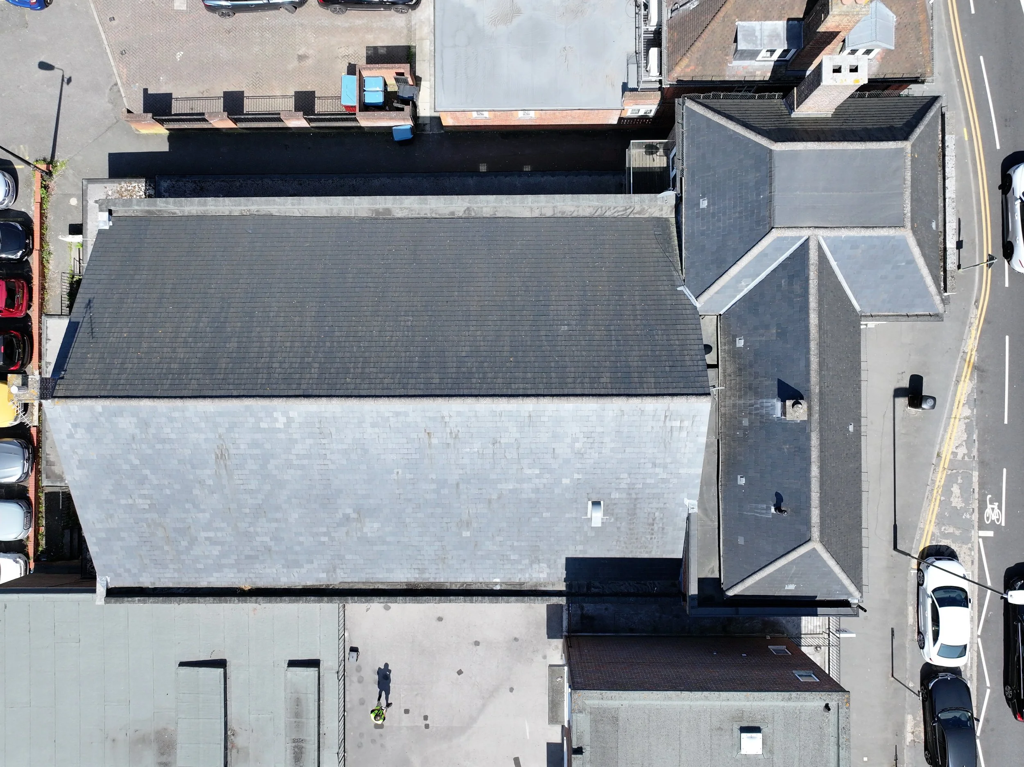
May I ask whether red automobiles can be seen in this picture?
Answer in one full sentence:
Yes, there is a red automobile in the image.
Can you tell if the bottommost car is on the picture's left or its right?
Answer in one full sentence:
The bottommost car appears in the right half of the scene.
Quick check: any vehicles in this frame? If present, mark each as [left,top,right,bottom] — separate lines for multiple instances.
[0,440,33,482]
[0,171,20,213]
[1,0,53,12]
[922,668,988,767]
[0,383,26,424]
[0,497,38,539]
[0,278,32,319]
[0,223,34,265]
[1004,585,1024,713]
[317,0,419,14]
[0,550,33,588]
[1001,166,1024,275]
[916,554,978,667]
[0,331,33,371]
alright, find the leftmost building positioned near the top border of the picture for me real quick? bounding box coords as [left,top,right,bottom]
[434,0,643,130]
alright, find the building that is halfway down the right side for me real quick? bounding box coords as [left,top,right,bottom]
[665,53,957,617]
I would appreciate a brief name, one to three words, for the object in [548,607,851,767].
building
